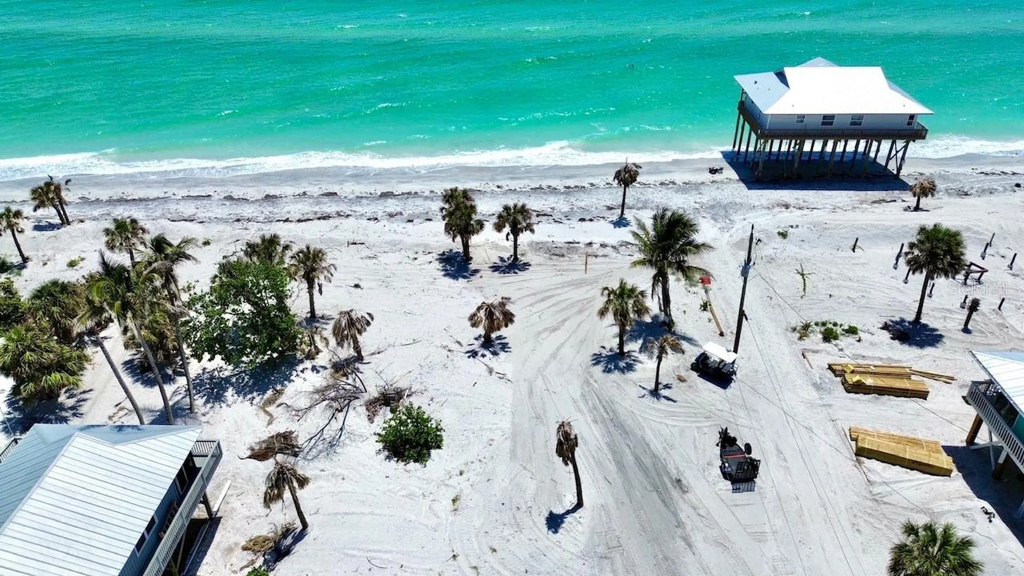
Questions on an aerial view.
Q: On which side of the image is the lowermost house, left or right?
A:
left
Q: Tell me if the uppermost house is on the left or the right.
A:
right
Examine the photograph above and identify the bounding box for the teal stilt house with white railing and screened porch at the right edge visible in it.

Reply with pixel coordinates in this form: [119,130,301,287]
[951,349,1024,482]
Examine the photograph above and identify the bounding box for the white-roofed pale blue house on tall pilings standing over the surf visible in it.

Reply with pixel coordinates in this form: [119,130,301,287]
[729,57,936,180]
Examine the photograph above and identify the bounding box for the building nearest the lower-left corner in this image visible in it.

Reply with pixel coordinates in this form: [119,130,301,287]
[0,422,227,576]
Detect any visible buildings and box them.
[951,349,1024,482]
[0,422,227,576]
[729,57,936,180]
